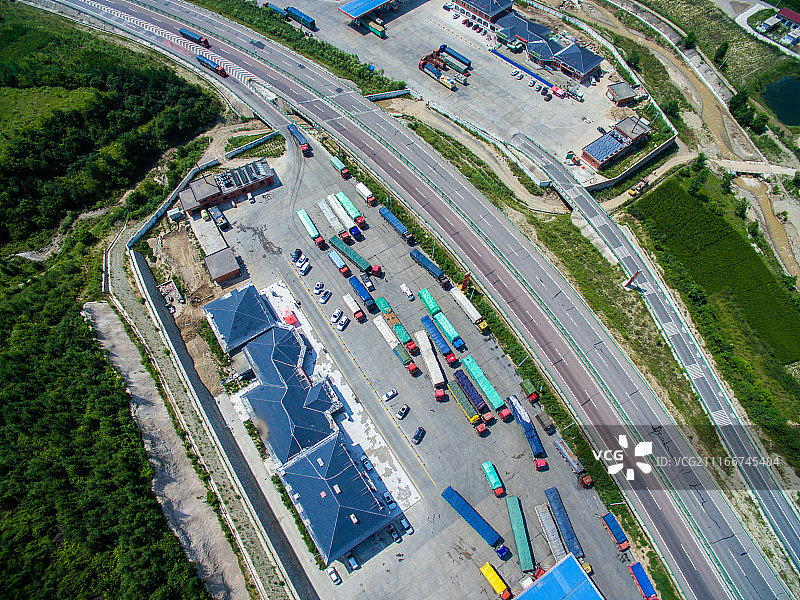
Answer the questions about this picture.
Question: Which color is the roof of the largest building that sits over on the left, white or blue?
blue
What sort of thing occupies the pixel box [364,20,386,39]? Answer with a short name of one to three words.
vehicle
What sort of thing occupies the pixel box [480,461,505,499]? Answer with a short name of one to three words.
truck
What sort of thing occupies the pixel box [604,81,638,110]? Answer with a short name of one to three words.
building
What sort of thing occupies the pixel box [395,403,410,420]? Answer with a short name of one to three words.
car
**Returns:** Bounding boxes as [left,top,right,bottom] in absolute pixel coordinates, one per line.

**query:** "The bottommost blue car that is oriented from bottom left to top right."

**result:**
[412,427,426,445]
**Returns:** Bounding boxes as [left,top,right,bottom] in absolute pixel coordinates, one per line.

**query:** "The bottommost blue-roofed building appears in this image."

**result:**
[202,284,391,565]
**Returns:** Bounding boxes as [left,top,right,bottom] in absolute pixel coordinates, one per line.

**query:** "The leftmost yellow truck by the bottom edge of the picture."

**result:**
[478,562,512,600]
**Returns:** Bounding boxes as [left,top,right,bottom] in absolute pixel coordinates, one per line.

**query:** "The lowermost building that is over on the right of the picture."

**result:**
[580,115,651,172]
